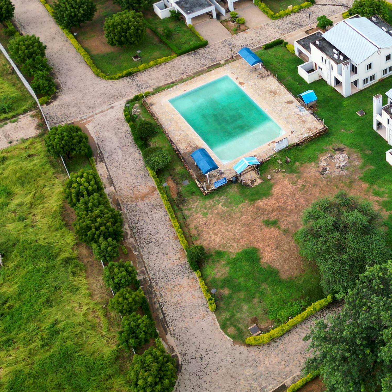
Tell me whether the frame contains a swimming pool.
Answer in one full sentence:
Yes, the image includes a swimming pool.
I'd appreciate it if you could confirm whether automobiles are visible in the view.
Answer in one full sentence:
No, I can see no automobile in this picture.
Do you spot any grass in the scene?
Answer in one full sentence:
Yes, there is grass in the image.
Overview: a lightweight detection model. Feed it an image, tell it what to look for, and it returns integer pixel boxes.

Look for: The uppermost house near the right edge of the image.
[293,13,392,97]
